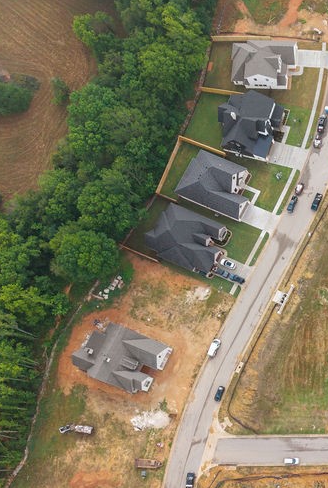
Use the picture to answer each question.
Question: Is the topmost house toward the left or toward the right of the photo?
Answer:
right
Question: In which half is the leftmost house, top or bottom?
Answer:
bottom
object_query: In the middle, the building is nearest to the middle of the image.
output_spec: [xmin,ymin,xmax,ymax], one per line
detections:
[140,202,229,276]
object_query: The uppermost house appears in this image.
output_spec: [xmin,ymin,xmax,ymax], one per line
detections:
[227,40,300,89]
